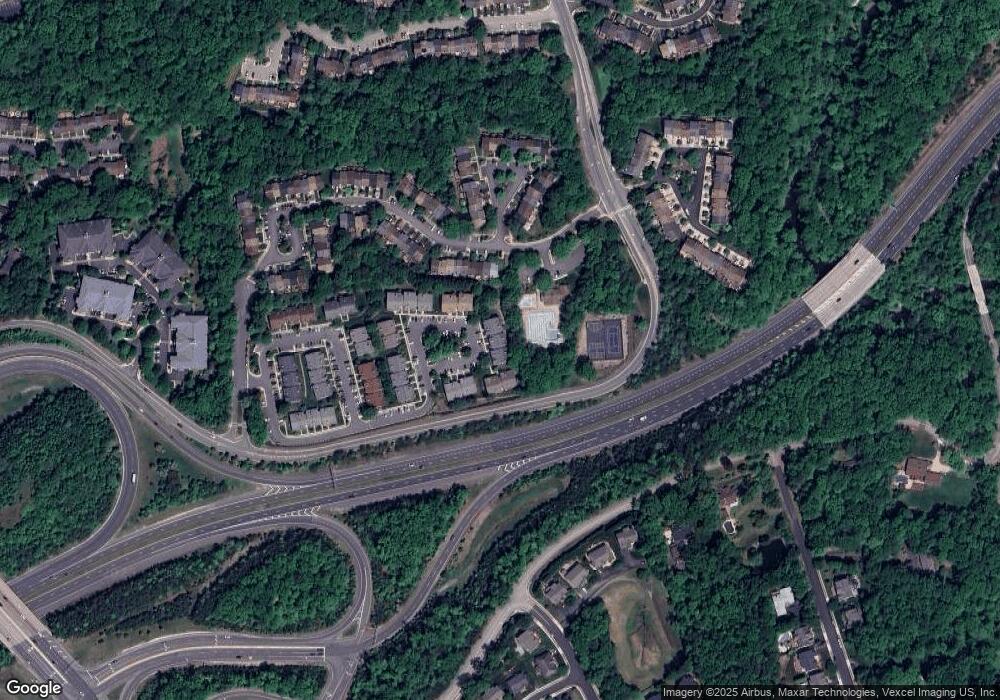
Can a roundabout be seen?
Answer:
No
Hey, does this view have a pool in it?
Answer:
Yes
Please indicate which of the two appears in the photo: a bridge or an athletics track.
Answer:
bridge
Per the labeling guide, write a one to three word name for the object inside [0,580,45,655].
overpass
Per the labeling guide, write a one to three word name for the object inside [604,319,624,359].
tennis court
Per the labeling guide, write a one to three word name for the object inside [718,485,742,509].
house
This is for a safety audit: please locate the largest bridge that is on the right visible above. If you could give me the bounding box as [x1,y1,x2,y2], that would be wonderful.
[802,240,887,328]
